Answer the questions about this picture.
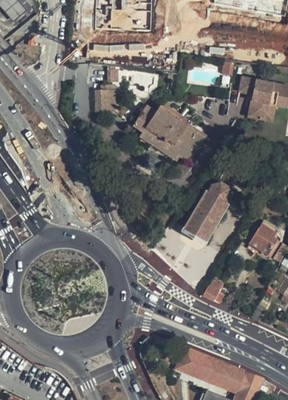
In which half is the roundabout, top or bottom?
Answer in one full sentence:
Seen from above, the roundabout lies in the bottom half of the view.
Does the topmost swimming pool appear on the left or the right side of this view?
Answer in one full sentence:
The topmost swimming pool is on the right side of the image.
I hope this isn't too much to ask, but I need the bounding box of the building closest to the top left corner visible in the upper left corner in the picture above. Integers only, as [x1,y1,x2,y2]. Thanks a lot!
[0,0,27,22]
